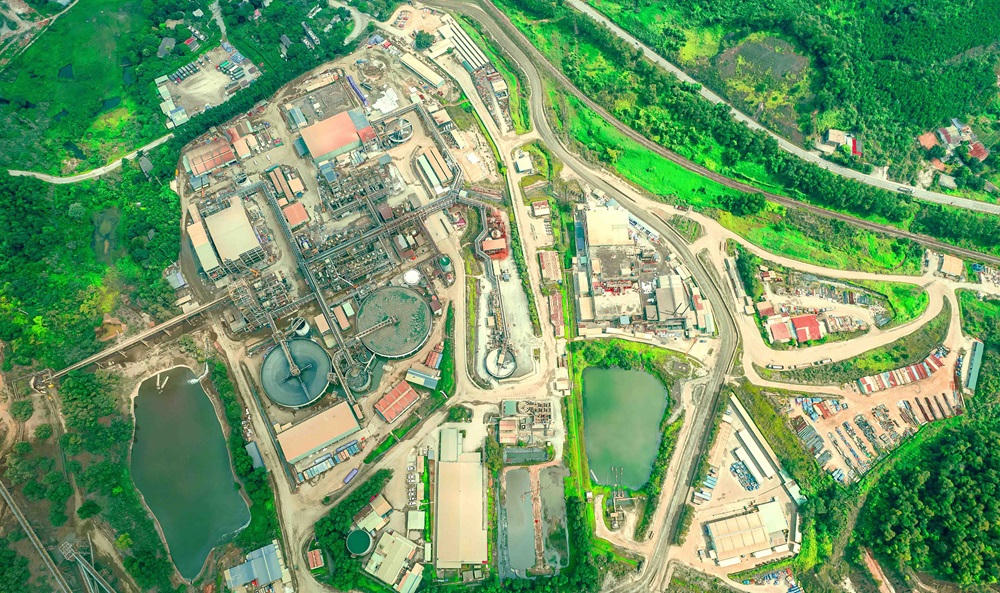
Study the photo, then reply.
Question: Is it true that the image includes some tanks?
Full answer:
Yes, the image includes a tank.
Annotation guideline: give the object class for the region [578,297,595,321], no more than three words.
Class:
shed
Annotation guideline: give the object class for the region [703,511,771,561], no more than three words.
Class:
building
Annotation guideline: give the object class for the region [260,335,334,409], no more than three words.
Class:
storage tank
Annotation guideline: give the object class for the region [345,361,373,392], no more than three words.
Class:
storage tank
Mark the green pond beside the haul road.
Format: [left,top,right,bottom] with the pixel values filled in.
[582,366,669,490]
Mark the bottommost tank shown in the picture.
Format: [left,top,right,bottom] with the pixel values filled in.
[346,528,374,557]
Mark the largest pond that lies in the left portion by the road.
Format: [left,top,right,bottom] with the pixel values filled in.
[131,366,252,581]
